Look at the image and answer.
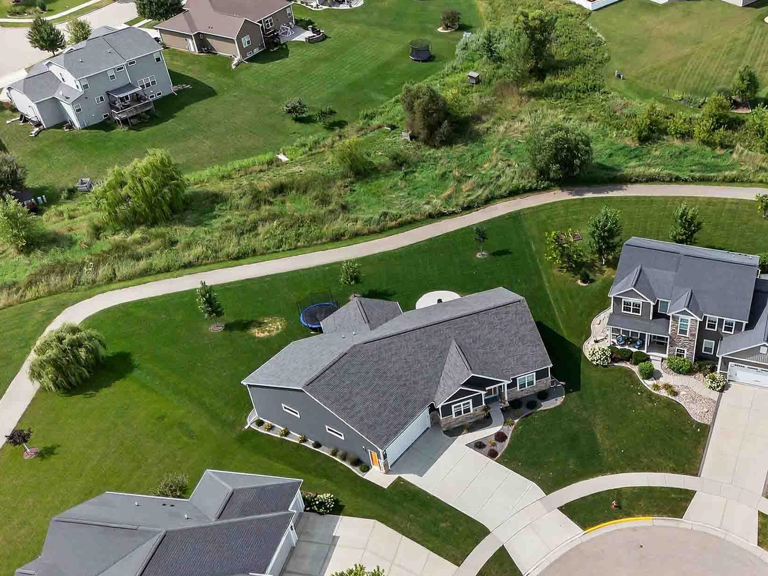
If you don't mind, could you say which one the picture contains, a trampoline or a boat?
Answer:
trampoline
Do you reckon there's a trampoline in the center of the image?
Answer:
Yes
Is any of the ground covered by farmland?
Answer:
No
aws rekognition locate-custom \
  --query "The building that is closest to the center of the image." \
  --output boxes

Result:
[236,287,559,470]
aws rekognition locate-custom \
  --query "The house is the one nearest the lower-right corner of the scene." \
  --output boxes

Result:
[605,236,768,386]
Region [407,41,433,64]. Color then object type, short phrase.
black trampoline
